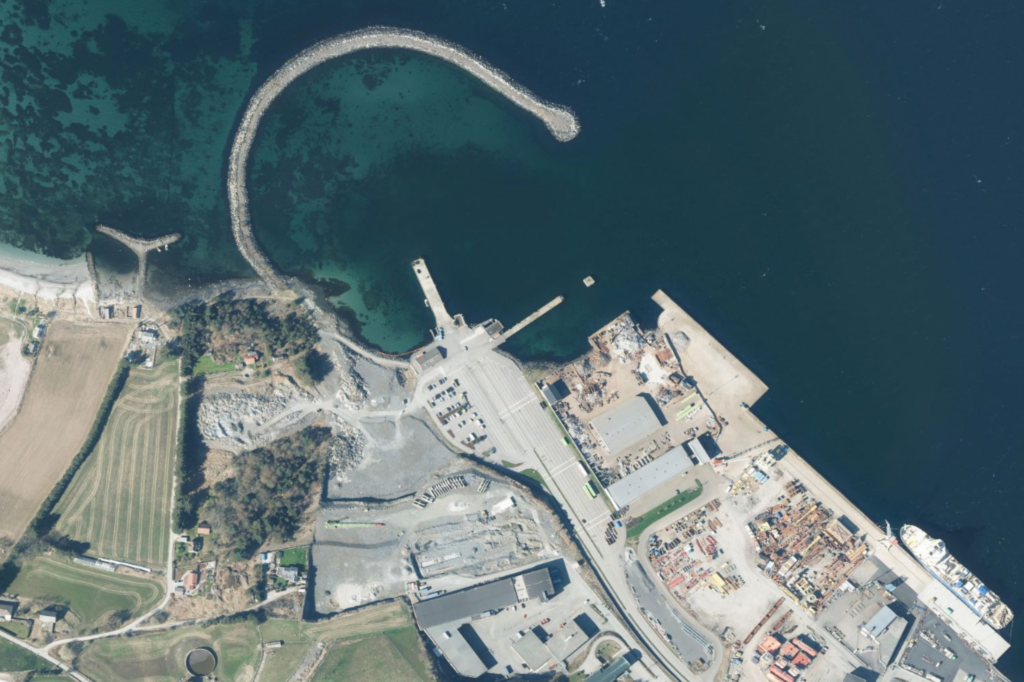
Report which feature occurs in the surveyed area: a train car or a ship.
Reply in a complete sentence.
Looking from above, you can make out a ship.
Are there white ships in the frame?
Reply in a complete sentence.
Yes, the picture does show a white ship.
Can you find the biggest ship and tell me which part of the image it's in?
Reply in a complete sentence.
You can find the biggest ship in the bottom right area of the picture.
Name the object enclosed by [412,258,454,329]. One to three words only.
pier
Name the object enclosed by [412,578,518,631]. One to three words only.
building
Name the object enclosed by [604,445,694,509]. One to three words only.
building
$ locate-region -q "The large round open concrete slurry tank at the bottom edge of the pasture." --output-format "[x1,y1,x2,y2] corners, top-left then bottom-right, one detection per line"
[186,648,216,682]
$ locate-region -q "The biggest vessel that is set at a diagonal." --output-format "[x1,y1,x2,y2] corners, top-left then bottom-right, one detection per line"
[882,524,1014,644]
